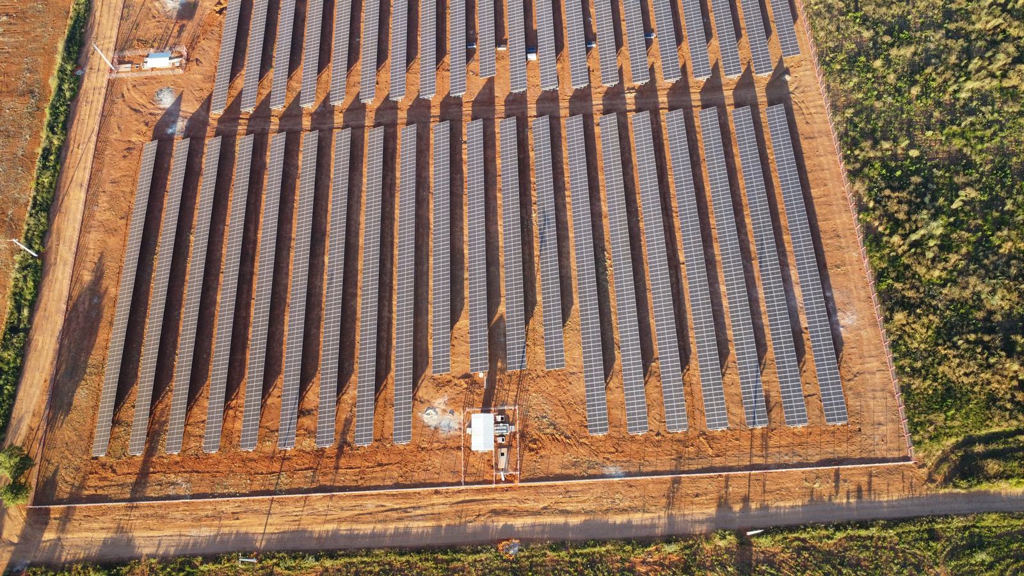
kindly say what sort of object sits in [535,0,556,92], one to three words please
solar array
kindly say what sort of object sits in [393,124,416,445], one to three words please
solar array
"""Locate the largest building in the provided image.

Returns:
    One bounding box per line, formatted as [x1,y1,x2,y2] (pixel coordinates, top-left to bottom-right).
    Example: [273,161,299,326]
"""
[472,414,494,452]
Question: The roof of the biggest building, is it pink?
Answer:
No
